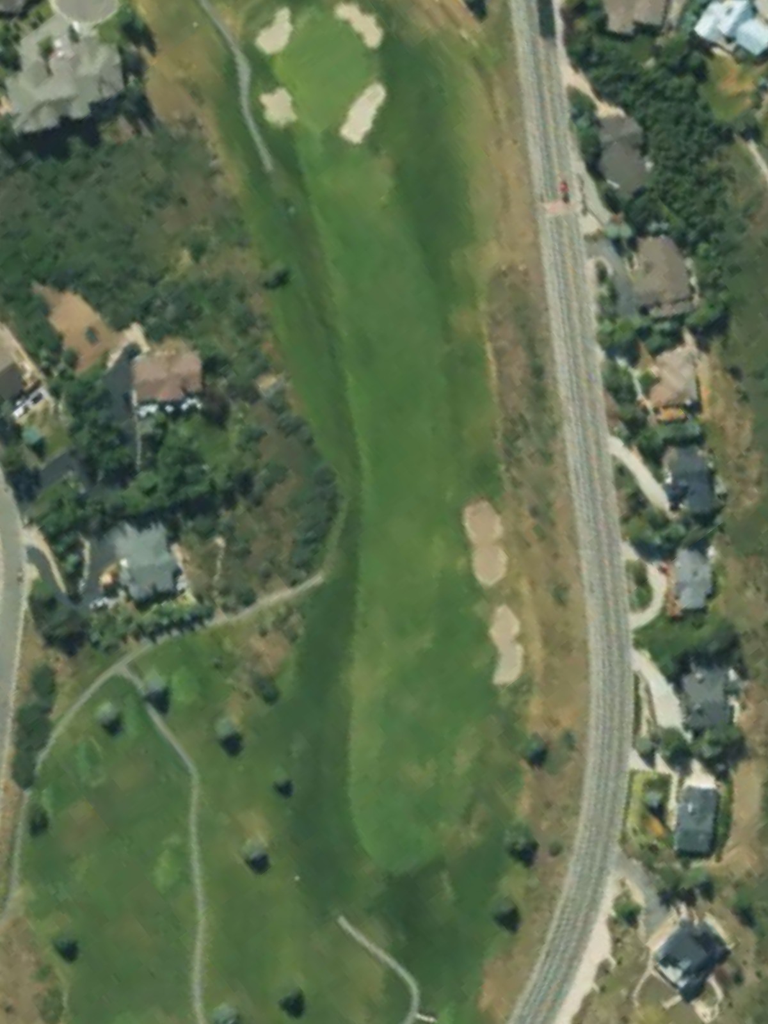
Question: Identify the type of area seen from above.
golf course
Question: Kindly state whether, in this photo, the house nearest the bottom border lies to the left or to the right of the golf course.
to the right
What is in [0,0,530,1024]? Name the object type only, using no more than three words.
golf course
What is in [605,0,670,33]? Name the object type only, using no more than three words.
house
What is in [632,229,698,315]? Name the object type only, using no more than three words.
house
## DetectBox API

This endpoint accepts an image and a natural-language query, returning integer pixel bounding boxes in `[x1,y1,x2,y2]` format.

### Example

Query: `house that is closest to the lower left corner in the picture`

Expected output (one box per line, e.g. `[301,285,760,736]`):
[104,520,180,601]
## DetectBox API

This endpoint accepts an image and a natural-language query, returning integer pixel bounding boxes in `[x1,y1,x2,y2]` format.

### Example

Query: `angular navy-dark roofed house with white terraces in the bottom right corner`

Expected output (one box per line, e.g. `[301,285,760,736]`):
[656,914,738,1004]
